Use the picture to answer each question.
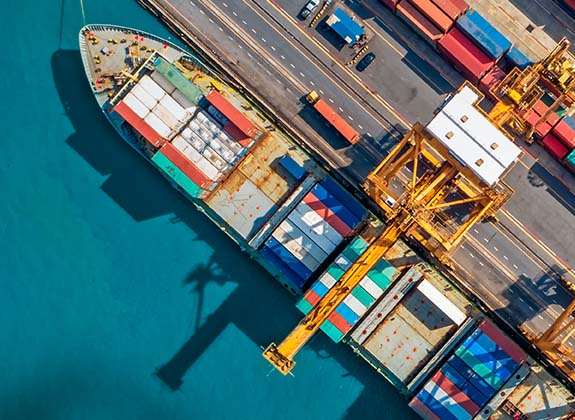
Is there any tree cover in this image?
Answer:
No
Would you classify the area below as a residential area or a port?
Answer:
port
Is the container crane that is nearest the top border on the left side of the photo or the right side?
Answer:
right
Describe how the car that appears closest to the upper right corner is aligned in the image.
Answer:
diagonally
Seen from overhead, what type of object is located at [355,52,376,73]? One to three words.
car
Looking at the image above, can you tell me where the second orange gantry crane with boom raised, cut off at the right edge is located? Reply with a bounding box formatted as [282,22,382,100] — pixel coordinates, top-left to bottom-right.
[524,282,575,392]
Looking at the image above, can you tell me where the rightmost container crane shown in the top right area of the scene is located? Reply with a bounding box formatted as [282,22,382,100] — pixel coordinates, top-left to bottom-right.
[501,36,575,151]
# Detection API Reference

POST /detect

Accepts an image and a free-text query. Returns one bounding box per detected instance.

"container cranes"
[262,62,545,377]
[524,282,575,392]
[501,36,575,151]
